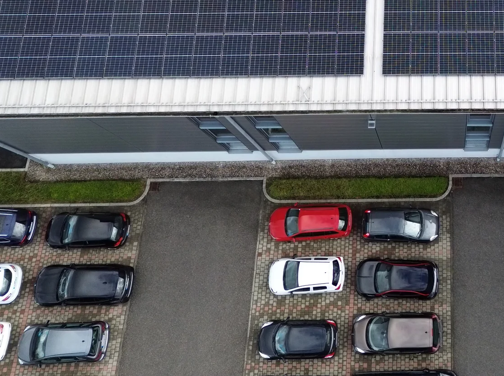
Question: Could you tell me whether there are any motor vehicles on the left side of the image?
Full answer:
Yes, on the left side of the image there is a motor vehicle.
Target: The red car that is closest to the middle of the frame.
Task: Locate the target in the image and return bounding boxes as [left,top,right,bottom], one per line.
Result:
[268,200,353,245]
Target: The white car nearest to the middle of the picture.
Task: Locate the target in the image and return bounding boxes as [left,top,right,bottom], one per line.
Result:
[267,253,346,301]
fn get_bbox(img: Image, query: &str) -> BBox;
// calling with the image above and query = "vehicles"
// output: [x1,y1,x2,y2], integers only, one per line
[351,309,442,362]
[42,207,134,254]
[0,264,29,308]
[357,368,452,376]
[30,258,138,311]
[257,314,340,366]
[361,203,439,247]
[354,255,438,304]
[267,253,346,301]
[0,209,42,252]
[268,200,353,245]
[15,318,115,371]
